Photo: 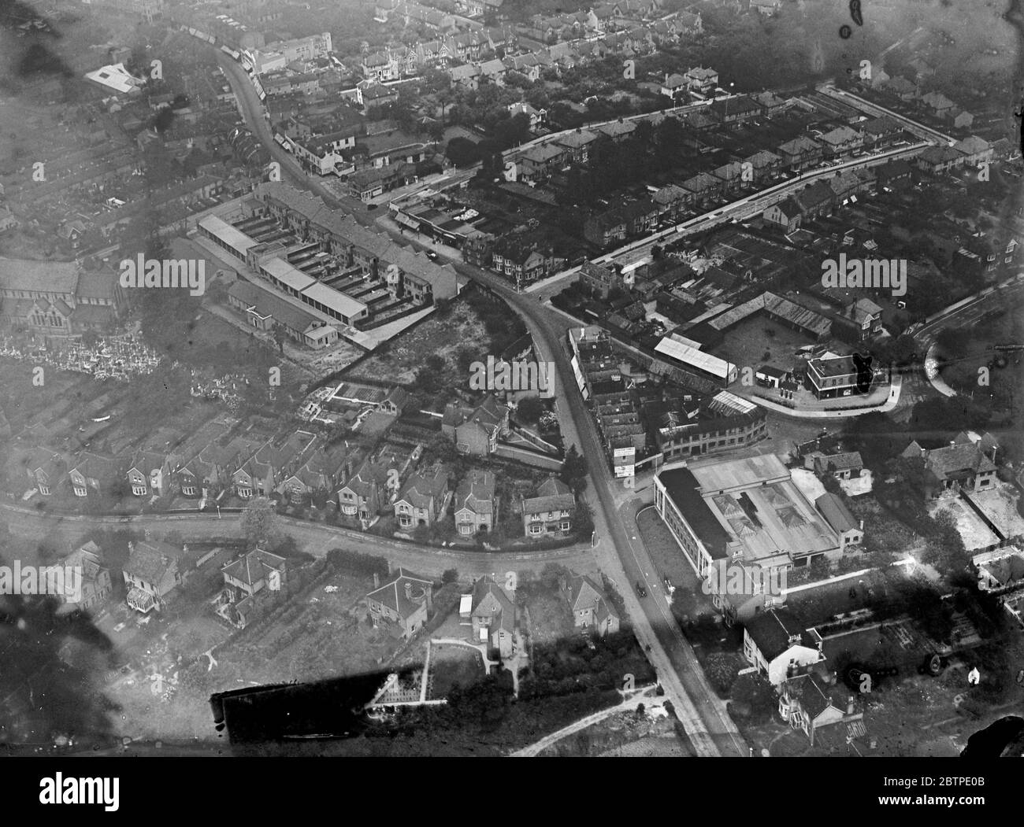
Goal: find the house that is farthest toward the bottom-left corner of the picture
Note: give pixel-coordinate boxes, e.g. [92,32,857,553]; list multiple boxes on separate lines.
[46,542,117,612]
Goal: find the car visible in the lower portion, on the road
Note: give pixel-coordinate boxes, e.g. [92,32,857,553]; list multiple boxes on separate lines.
[635,581,648,597]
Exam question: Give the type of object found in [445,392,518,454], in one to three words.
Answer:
house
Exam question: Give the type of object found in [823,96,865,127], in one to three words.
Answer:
house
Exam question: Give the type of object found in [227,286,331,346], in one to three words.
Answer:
building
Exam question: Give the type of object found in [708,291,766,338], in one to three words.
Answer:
shed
